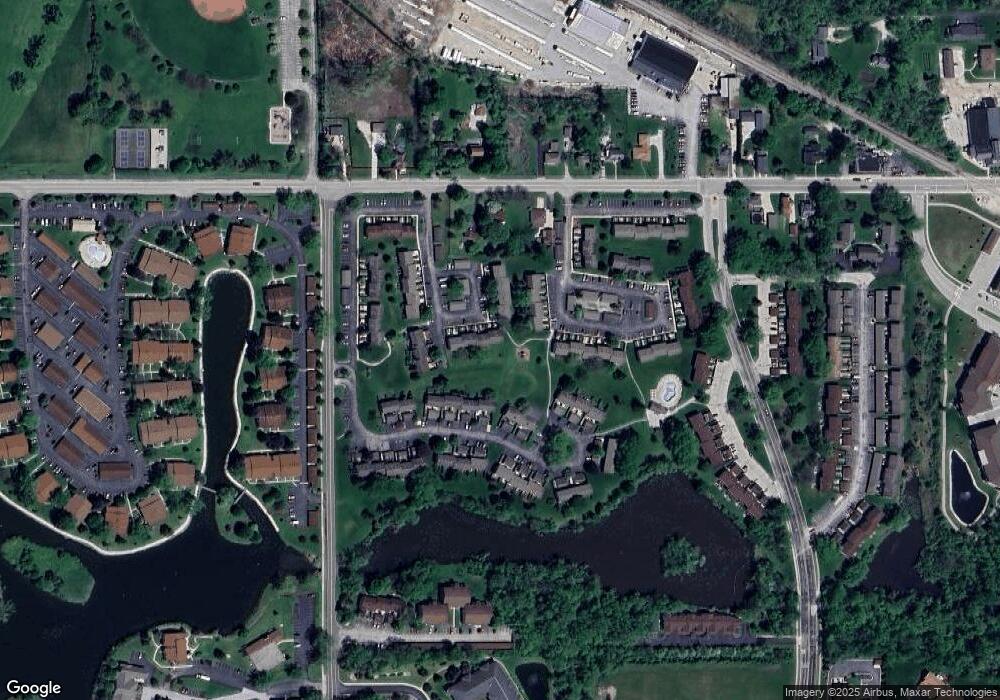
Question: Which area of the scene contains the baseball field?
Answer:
top left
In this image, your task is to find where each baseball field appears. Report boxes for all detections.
[129,0,277,78]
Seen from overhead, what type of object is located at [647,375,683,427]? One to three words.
swimming pool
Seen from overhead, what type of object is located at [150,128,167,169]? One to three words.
basketball court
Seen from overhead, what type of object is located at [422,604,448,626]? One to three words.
house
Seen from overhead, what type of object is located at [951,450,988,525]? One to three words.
pond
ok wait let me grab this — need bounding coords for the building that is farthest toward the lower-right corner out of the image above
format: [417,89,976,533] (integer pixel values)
[913,671,951,700]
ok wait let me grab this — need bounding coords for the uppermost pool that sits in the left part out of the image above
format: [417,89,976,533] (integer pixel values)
[80,234,111,268]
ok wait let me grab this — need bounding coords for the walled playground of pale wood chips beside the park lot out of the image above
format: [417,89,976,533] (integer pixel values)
[270,105,291,144]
